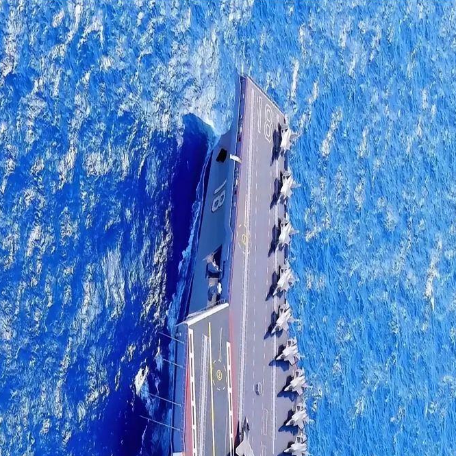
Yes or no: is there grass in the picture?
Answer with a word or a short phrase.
No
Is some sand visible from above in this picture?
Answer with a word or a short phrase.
No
